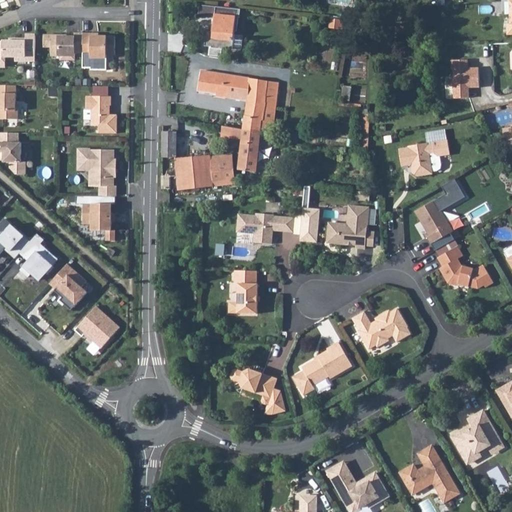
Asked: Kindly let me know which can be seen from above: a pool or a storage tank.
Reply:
pool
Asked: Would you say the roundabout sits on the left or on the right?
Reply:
left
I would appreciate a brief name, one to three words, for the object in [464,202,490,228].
swimming pool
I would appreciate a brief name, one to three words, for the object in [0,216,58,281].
house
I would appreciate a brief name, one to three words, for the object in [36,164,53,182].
swimming pool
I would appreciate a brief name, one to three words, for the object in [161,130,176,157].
barn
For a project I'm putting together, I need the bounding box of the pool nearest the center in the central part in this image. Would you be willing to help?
[231,244,250,260]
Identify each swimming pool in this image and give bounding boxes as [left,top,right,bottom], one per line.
[478,4,494,14]
[68,173,81,186]
[36,164,53,182]
[231,244,250,260]
[322,208,338,220]
[464,202,490,228]
[494,108,512,128]
[491,226,512,242]
[328,0,354,6]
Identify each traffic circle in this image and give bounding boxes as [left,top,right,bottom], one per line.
[115,376,185,446]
